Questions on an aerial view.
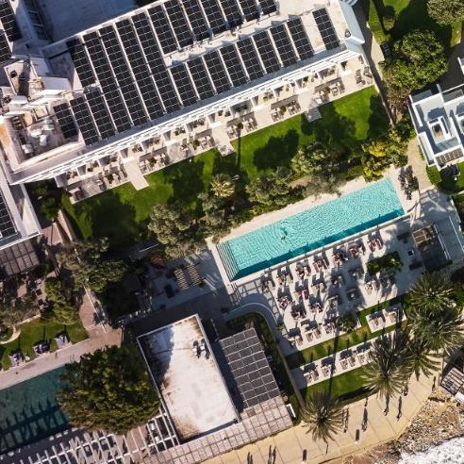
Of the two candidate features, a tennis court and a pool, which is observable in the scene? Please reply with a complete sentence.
Visible in the photo is a pool.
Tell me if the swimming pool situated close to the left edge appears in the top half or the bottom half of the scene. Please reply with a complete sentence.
Seen from above, the swimming pool situated close to the left edge lies in the bottom half of the view.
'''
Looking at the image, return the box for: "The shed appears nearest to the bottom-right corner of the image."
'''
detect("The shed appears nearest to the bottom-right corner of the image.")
[441,363,464,395]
